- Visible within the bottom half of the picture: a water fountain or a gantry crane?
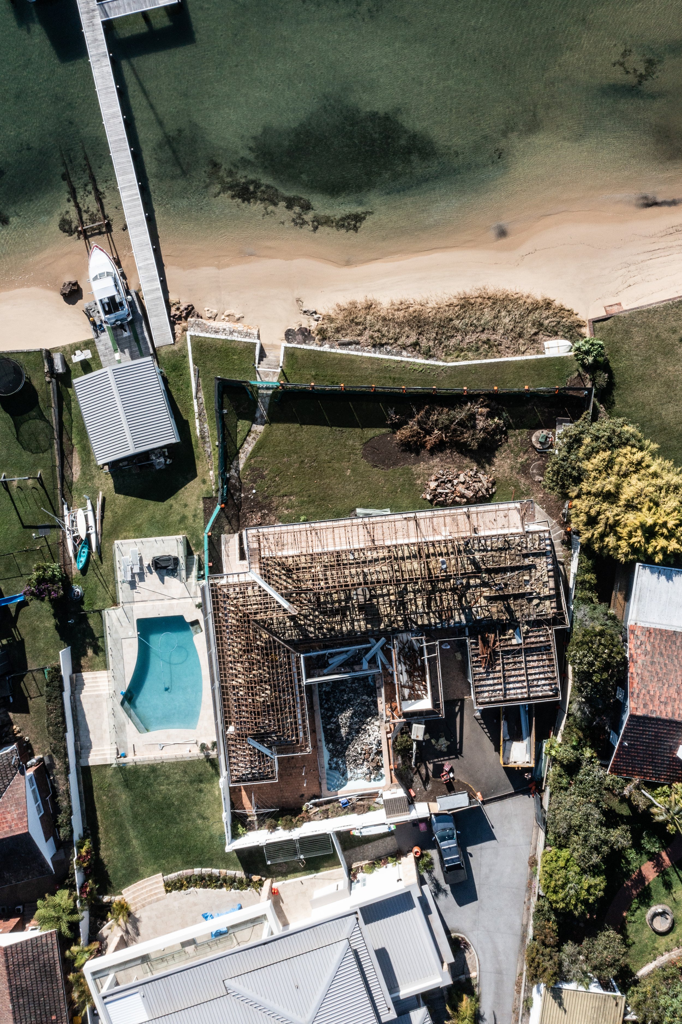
water fountain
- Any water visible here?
Yes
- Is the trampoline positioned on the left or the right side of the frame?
left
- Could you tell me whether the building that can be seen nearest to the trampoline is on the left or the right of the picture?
left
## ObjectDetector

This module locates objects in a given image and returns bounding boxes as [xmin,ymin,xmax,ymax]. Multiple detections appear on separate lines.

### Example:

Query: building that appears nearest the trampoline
[72,355,179,466]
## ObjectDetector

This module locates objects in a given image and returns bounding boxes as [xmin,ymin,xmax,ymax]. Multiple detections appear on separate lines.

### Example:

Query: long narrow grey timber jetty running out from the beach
[74,0,174,347]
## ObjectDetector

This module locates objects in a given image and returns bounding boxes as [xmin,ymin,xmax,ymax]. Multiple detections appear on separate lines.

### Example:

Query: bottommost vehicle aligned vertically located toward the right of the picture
[432,811,472,887]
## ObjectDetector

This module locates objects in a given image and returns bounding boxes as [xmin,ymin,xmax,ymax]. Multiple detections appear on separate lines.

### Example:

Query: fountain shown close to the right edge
[647,905,673,932]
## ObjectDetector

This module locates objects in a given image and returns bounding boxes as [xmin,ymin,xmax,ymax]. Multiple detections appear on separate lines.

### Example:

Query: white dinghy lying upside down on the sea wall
[542,339,573,355]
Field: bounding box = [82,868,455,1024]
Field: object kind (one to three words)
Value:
house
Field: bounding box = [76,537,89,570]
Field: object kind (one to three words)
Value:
boat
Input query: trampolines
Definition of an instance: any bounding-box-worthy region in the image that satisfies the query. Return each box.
[0,352,28,400]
